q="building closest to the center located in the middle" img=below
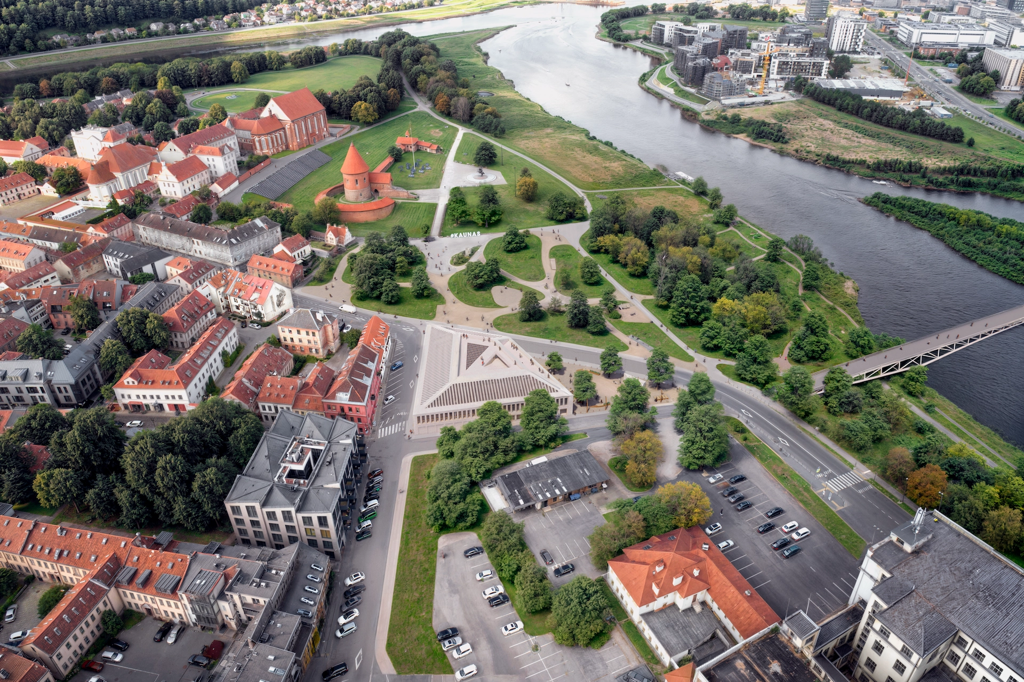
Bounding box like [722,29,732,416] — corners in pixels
[413,323,574,432]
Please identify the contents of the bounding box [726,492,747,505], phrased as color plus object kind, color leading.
gray vehicle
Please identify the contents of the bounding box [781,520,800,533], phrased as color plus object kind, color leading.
white vehicle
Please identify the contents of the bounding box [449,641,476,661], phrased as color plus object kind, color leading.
white car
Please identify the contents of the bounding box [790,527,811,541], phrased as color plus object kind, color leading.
white car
